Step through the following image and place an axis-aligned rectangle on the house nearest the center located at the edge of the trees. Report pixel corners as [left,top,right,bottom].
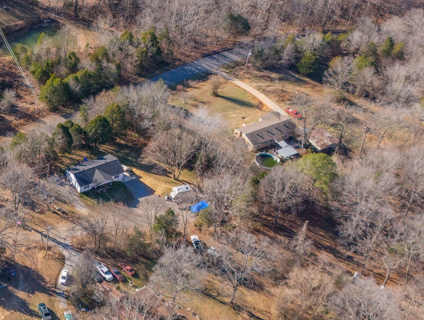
[233,106,305,159]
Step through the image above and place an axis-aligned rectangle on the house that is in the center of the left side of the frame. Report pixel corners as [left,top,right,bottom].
[67,155,125,195]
